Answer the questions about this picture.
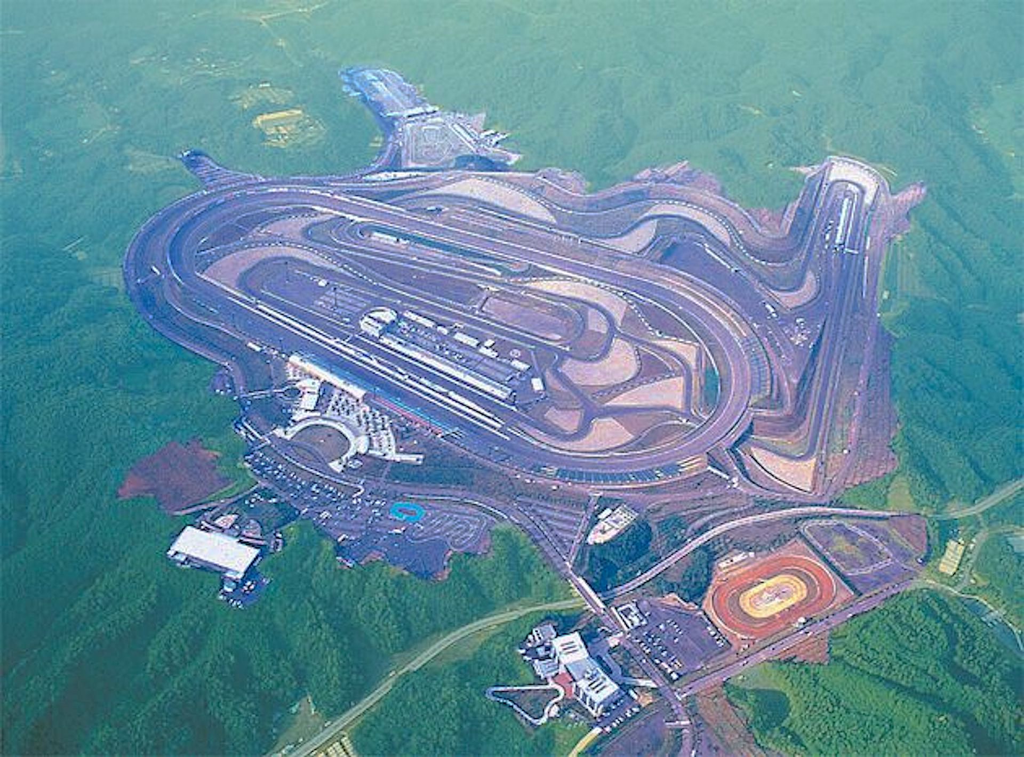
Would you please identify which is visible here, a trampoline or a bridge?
bridge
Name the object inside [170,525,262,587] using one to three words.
building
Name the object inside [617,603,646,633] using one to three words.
building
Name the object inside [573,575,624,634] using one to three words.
bridge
